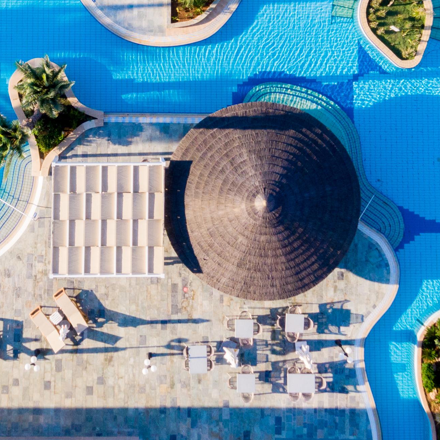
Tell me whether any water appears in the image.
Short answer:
Yes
